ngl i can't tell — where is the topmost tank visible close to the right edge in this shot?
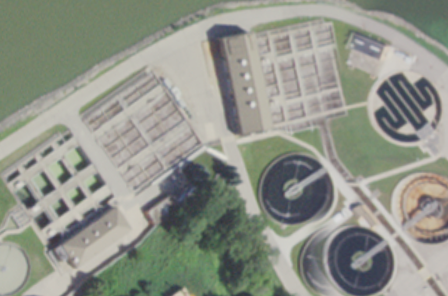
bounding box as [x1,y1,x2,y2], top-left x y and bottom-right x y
[368,67,446,148]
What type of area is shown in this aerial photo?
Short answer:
industrial area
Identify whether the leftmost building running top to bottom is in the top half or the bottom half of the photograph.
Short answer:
top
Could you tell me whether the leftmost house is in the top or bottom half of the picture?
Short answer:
bottom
